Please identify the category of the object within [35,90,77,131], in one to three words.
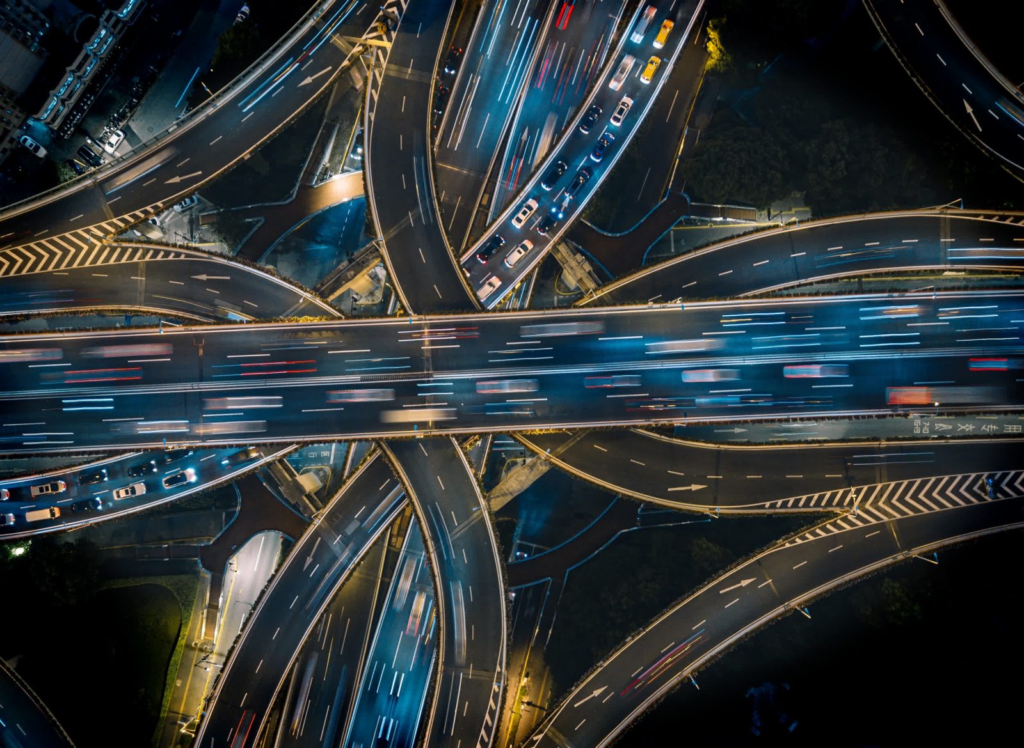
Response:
building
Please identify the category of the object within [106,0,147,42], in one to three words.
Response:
building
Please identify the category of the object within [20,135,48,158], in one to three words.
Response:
car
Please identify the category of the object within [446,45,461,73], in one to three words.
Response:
car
